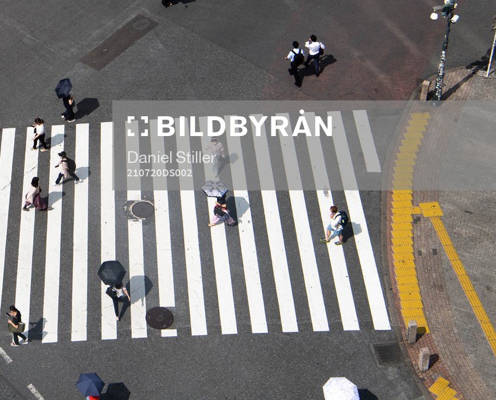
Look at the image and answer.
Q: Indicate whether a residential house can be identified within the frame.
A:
No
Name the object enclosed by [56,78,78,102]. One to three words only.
umbrella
